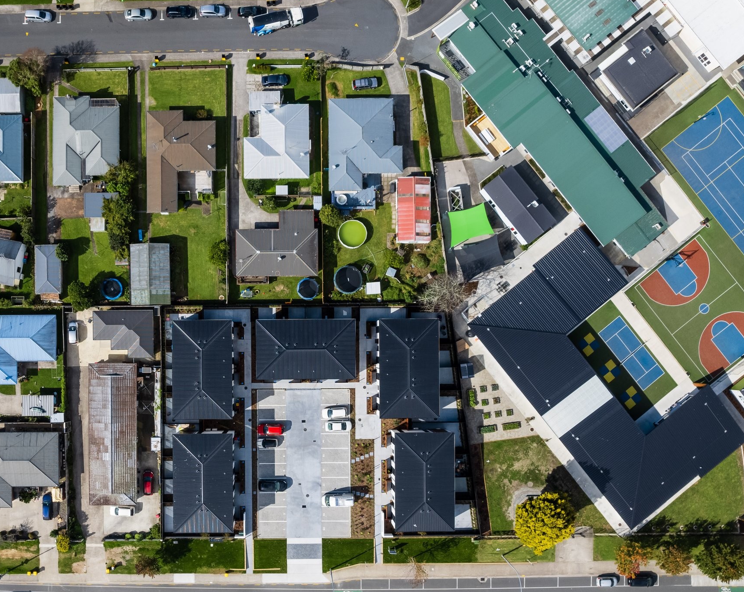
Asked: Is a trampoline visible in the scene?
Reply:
Yes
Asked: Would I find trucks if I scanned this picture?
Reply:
Yes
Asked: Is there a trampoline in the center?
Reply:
Yes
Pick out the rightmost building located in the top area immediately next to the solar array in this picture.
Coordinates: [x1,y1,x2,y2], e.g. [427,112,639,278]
[593,29,677,112]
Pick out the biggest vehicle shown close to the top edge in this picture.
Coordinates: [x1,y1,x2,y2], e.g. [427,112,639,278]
[248,3,304,36]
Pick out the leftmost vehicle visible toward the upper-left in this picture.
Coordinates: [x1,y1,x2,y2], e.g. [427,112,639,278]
[22,8,53,23]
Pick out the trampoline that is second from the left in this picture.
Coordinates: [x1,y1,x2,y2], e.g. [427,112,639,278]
[296,277,319,300]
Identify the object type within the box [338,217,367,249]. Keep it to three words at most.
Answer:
swimming pool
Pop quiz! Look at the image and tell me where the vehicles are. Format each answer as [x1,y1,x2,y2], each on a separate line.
[261,73,289,87]
[66,321,79,344]
[595,575,617,588]
[199,3,226,19]
[322,407,347,417]
[41,494,54,521]
[259,480,287,494]
[325,419,351,432]
[109,506,135,518]
[628,575,657,590]
[165,4,193,19]
[257,424,284,436]
[125,7,153,21]
[22,8,53,23]
[248,3,304,36]
[256,437,278,450]
[351,75,378,91]
[323,495,353,508]
[142,470,155,496]
[238,3,267,18]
